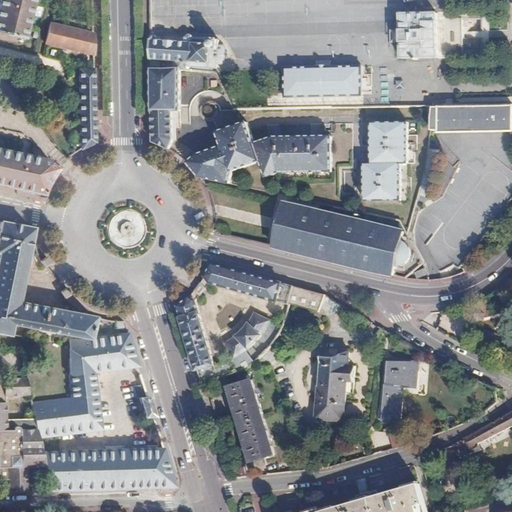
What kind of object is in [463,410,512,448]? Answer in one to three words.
house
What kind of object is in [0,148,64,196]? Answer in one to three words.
house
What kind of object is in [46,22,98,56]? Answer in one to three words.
barn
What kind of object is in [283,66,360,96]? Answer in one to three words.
building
